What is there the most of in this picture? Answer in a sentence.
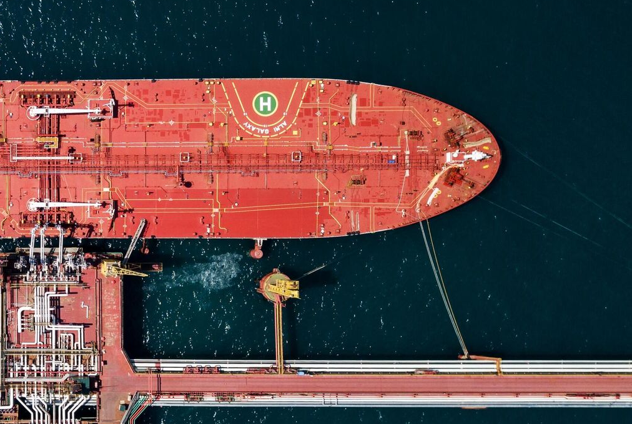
Most of the picture is covered by water.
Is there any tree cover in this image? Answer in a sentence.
No, tree cover can't be seen anywhere here.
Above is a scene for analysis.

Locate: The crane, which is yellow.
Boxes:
[102,260,149,278]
